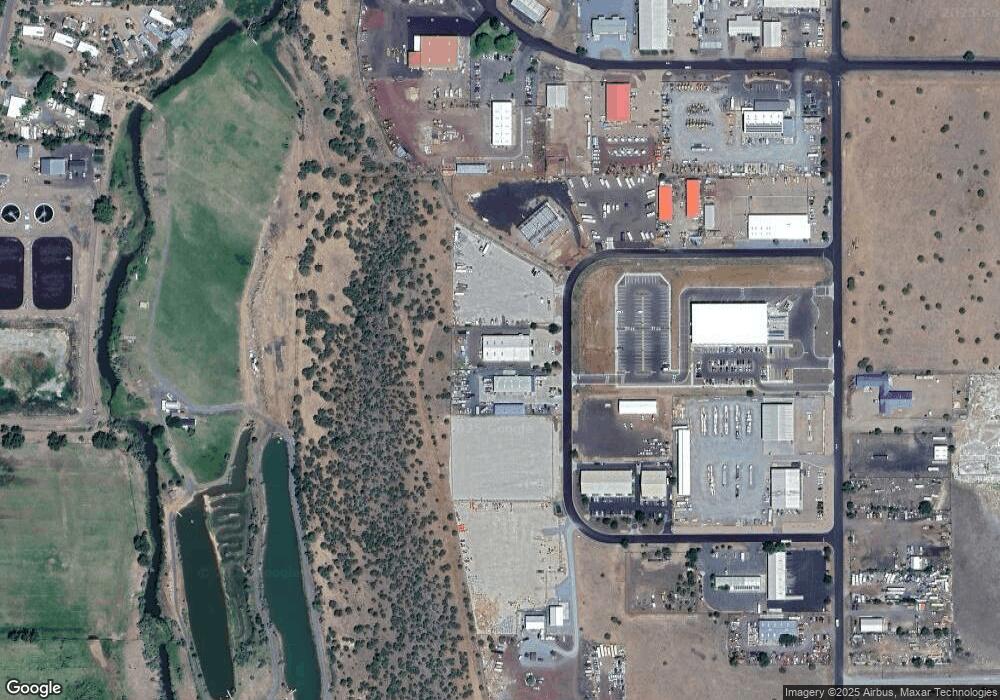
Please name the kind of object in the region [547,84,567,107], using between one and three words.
building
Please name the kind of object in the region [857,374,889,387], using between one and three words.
building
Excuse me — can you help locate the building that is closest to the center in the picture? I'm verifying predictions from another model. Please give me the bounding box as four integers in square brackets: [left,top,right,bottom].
[482,335,529,360]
